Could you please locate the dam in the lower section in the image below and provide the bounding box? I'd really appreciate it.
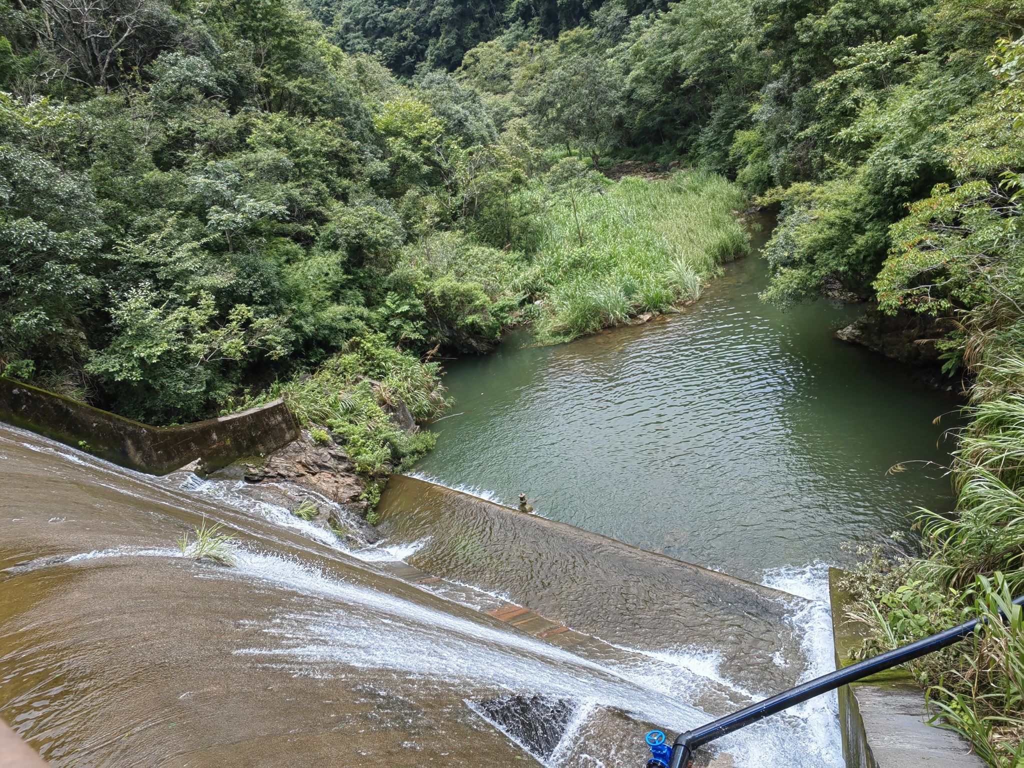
[303,529,846,768]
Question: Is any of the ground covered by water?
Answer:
Yes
